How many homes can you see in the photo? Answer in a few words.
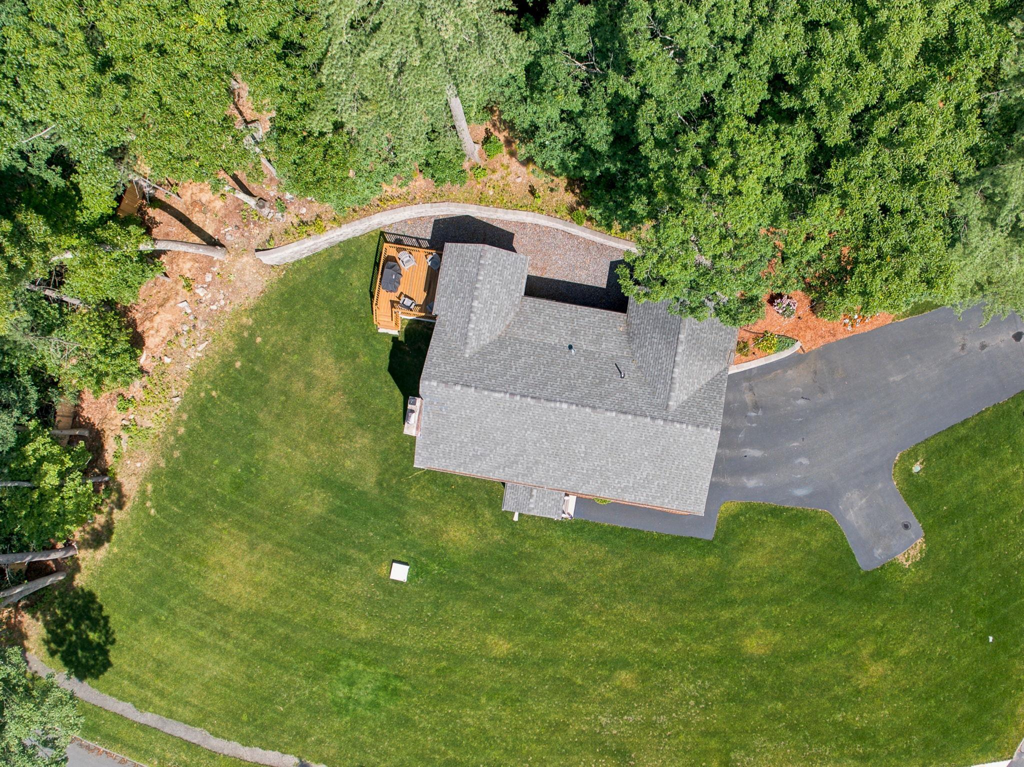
one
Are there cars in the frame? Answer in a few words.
No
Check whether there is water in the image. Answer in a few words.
No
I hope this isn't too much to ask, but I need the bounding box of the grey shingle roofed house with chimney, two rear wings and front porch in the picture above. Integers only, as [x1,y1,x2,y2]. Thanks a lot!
[403,243,742,520]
